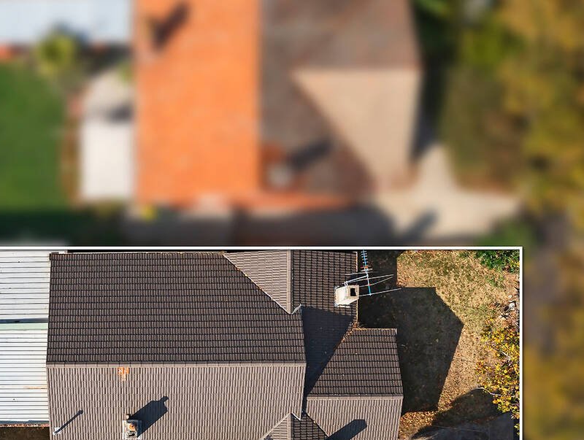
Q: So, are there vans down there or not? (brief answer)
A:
No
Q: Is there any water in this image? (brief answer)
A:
No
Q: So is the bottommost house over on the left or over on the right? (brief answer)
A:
left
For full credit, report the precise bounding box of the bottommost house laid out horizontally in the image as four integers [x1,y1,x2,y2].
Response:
[0,242,404,440]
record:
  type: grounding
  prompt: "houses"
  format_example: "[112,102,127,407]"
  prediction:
[0,242,404,440]
[132,0,425,207]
